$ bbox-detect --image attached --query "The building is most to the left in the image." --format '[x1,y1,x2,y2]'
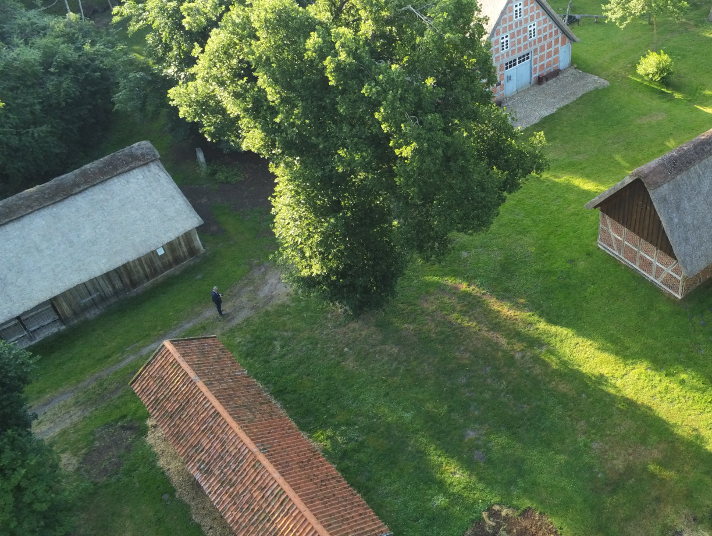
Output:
[0,137,208,353]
